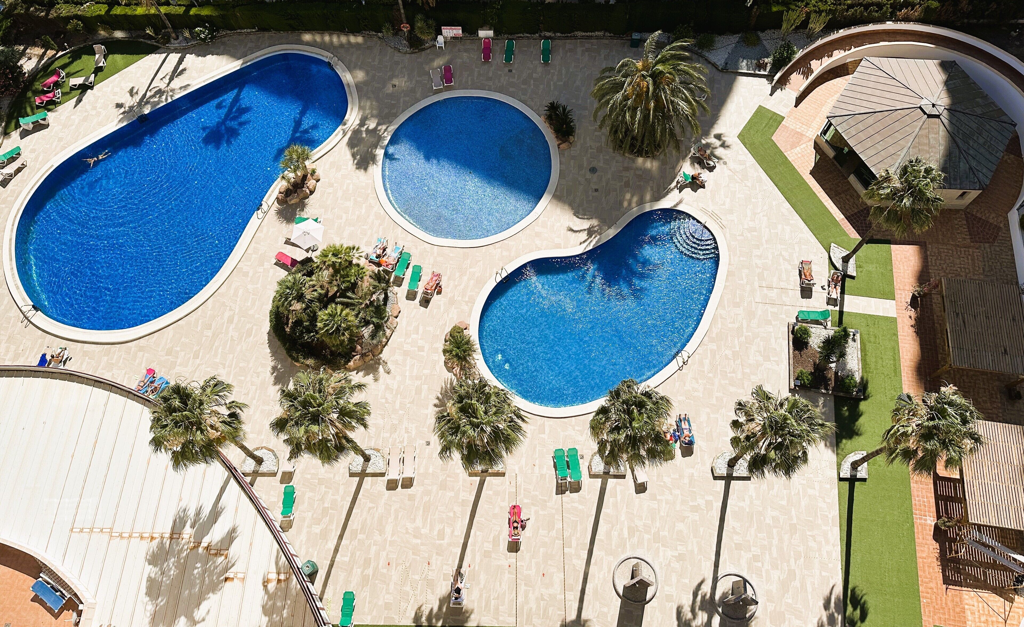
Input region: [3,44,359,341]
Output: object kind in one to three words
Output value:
swimming pool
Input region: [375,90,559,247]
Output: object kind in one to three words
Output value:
swimming pool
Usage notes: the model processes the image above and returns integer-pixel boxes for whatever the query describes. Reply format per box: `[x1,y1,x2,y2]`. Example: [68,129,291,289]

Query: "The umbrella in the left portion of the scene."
[290,218,324,251]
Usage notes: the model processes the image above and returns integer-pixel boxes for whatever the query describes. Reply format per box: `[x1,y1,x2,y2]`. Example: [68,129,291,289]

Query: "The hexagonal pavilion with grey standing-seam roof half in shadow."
[821,56,1018,204]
